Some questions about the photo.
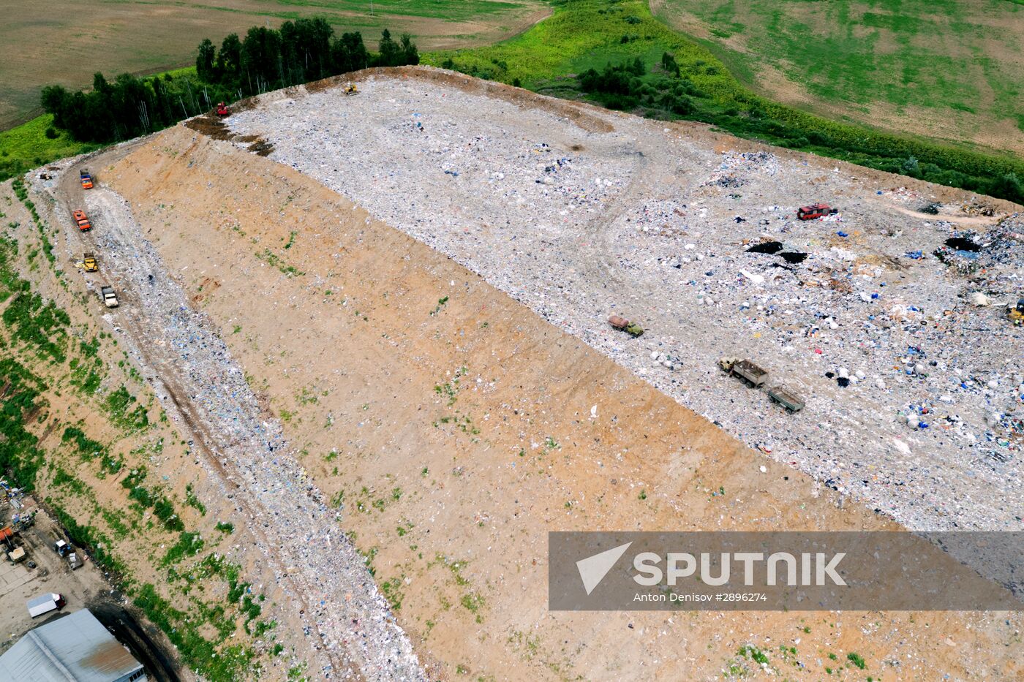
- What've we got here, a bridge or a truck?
truck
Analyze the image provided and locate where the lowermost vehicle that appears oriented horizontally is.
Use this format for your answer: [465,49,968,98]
[23,593,65,616]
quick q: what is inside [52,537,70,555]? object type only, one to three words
work vehicle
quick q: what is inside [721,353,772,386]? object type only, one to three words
truck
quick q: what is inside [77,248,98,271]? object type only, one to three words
truck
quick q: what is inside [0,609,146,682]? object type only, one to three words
shed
